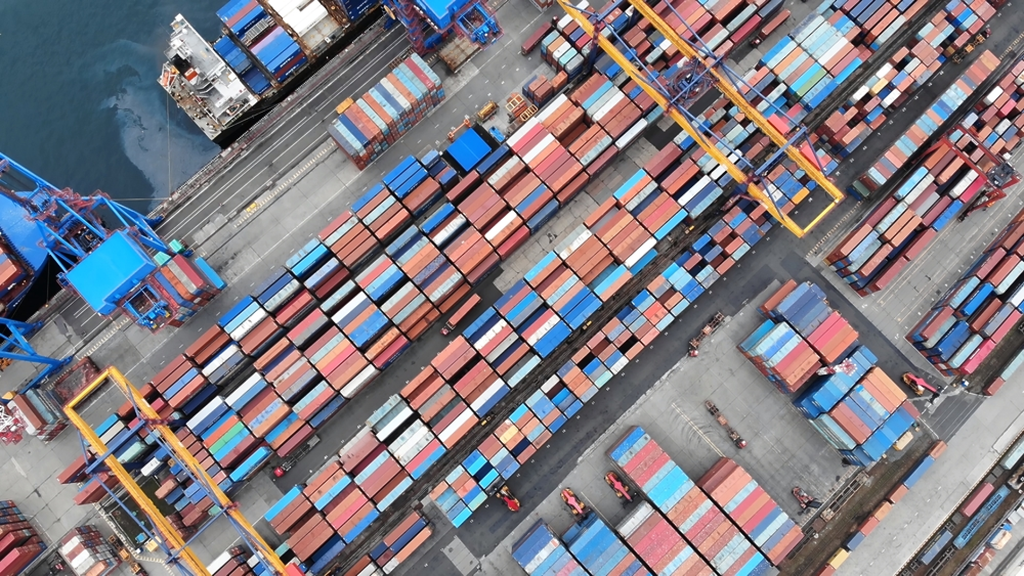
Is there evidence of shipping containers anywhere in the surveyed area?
Yes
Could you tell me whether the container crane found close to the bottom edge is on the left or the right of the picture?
left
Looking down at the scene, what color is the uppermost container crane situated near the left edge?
blue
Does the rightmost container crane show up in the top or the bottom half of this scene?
top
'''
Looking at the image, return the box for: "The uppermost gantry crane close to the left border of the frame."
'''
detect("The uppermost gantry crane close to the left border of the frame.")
[0,148,206,354]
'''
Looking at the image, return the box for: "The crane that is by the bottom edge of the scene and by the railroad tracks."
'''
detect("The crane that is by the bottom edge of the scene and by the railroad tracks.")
[61,357,330,576]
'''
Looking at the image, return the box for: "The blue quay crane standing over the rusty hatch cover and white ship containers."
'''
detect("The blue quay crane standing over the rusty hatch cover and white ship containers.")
[382,0,521,68]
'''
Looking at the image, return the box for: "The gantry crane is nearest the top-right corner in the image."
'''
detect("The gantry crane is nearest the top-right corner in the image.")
[906,122,1024,221]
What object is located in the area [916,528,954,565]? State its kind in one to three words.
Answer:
shipping container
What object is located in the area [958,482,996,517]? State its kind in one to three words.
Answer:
shipping container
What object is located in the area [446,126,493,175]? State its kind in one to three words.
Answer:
shed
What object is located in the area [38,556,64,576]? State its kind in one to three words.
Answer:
vehicle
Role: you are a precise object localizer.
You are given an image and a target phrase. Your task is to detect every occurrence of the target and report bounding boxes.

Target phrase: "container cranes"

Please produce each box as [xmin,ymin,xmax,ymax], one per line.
[0,312,81,417]
[382,0,521,68]
[548,0,849,245]
[0,148,206,354]
[61,357,330,576]
[906,122,1024,221]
